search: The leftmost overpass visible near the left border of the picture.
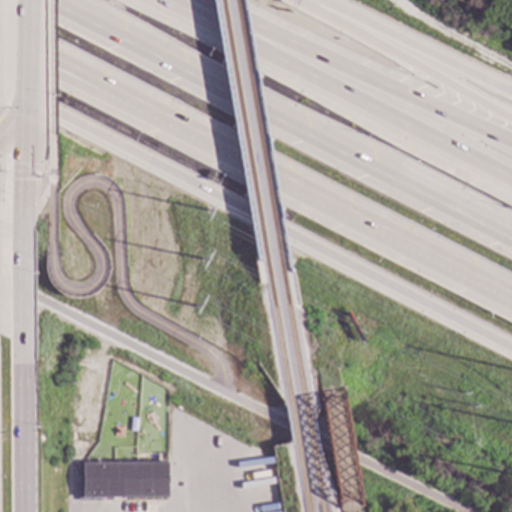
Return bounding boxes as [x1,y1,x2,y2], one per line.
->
[0,0,59,512]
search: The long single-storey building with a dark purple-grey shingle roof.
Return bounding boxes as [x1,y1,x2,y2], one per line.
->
[85,462,168,500]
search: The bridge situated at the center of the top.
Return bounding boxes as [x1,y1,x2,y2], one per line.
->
[216,0,294,270]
